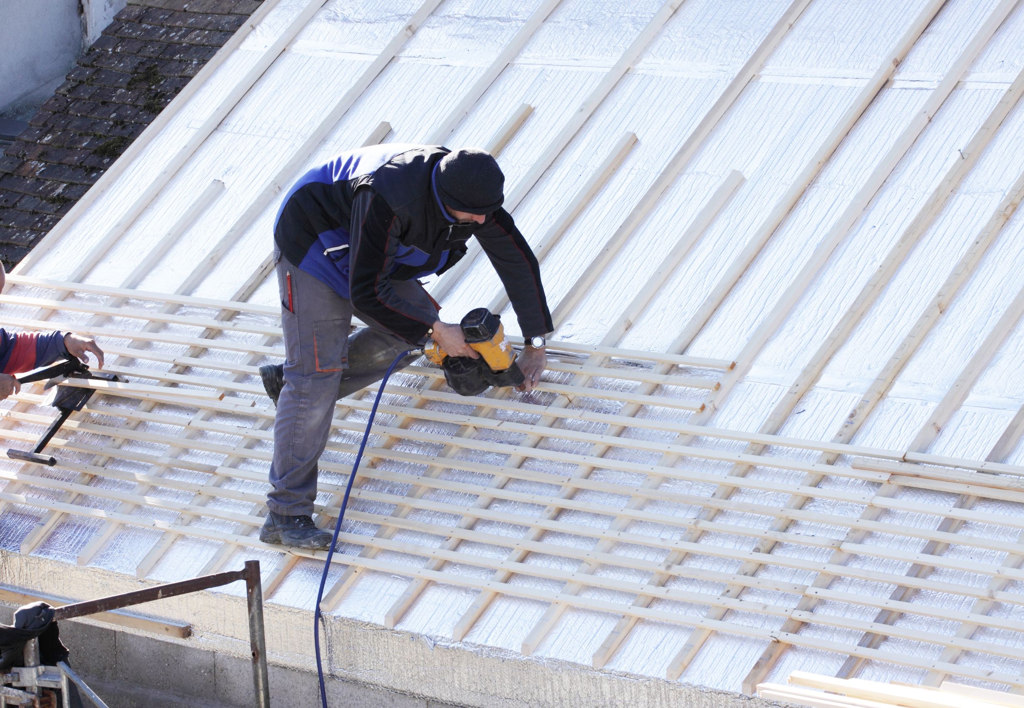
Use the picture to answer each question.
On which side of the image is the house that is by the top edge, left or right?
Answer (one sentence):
The house that is by the top edge sits on the left side.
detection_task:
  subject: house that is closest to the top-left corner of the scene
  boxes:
[0,0,142,149]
